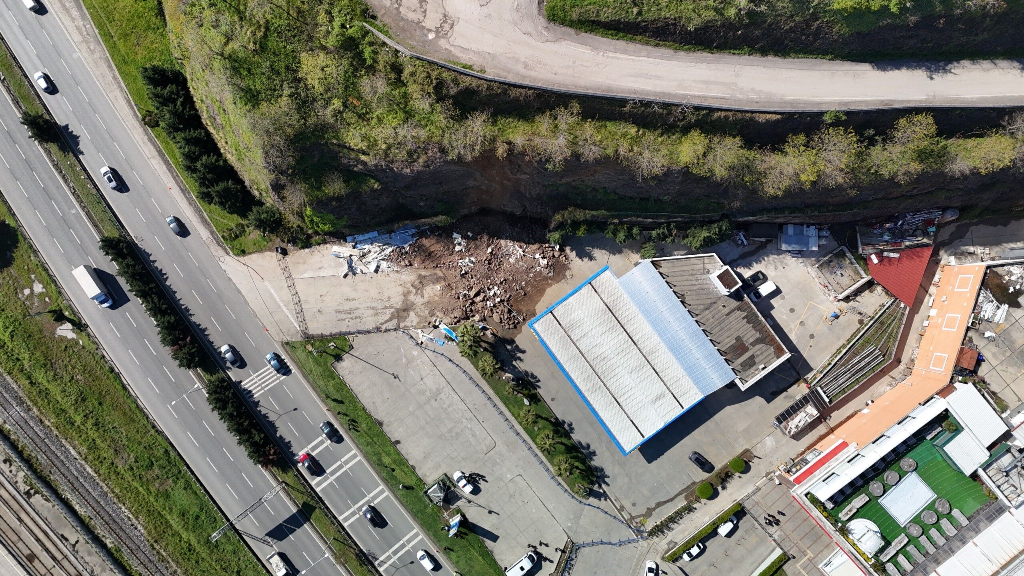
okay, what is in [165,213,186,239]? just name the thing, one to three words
car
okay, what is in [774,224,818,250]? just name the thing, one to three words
shed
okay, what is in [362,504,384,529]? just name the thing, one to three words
car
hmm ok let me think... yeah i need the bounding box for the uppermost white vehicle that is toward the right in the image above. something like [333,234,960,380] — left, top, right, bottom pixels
[748,281,777,302]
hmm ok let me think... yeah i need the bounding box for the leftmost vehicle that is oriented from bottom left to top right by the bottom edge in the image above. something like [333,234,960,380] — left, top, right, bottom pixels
[501,550,535,576]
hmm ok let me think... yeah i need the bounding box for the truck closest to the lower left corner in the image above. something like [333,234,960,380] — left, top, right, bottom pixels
[262,547,291,576]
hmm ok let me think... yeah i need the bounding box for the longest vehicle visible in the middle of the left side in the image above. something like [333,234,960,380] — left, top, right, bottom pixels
[71,264,115,307]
